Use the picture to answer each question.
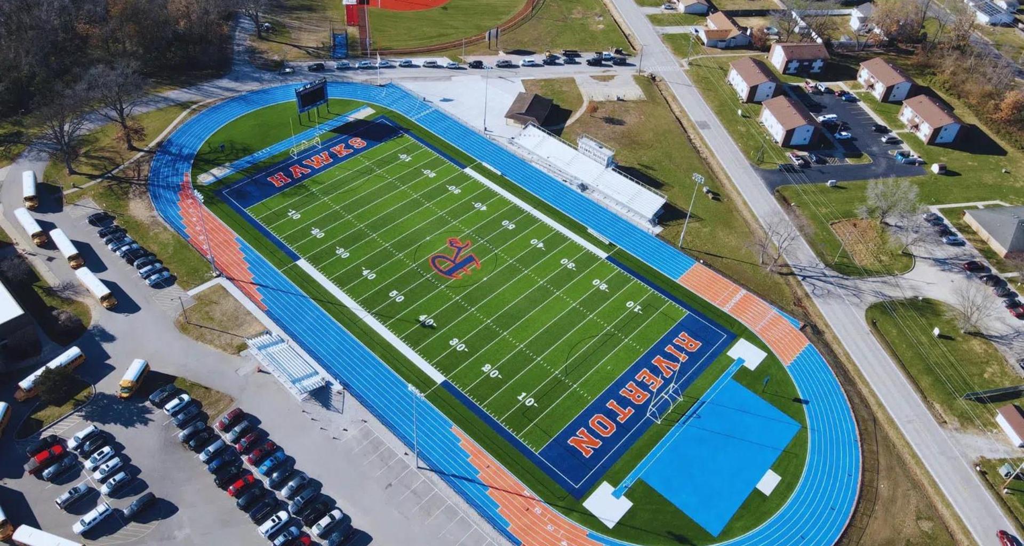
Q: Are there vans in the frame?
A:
Yes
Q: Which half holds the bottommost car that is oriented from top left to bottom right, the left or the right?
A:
right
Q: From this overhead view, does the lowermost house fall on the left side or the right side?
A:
right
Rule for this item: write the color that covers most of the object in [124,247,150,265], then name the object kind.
black car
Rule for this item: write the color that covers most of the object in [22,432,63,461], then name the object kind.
black truck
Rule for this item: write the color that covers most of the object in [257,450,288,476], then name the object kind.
blue car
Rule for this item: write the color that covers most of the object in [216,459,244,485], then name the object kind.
black car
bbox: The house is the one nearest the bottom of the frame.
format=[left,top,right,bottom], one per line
[994,400,1024,448]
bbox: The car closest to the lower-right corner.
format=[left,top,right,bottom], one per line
[994,526,1019,546]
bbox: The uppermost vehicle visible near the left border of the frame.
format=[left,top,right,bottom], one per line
[23,171,42,212]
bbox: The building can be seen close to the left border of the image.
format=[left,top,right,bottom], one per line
[0,280,39,357]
